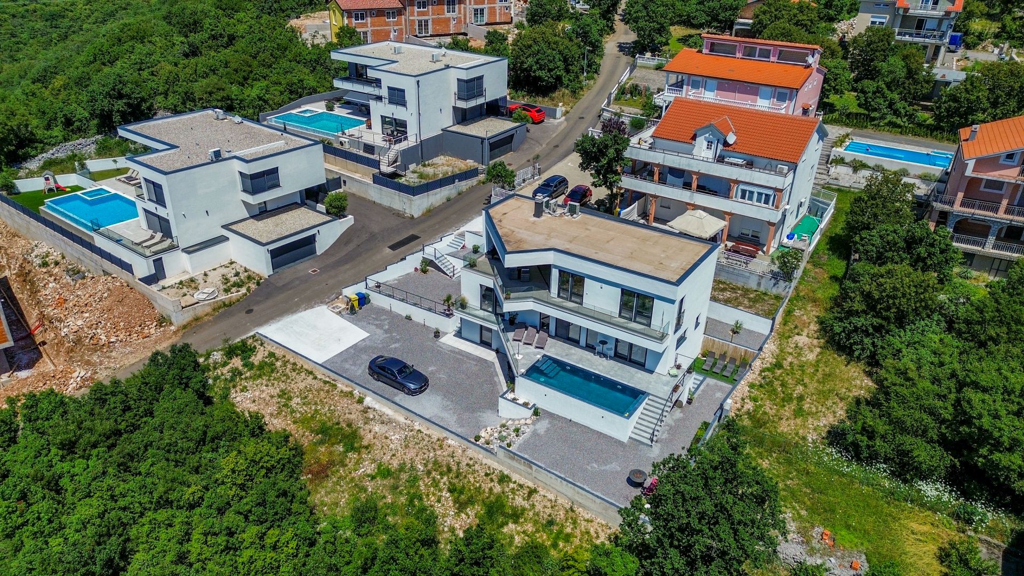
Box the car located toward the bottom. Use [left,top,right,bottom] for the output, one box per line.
[368,357,431,396]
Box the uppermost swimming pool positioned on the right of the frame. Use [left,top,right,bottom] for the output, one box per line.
[820,135,952,183]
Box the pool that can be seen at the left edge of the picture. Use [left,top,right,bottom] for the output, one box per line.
[41,186,140,244]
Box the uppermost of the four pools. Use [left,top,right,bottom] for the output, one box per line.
[264,107,367,144]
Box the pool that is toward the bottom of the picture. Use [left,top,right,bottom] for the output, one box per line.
[518,354,650,442]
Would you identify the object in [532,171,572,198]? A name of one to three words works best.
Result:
car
